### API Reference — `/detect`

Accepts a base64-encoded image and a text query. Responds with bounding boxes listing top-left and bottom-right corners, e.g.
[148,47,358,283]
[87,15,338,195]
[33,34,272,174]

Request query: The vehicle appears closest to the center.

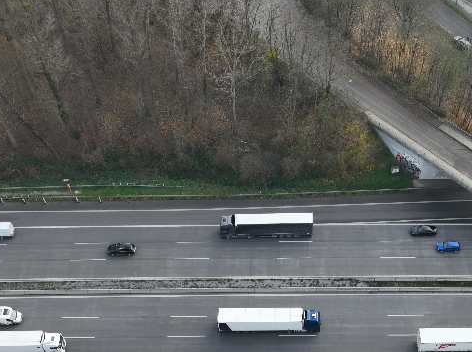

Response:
[219,212,313,238]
